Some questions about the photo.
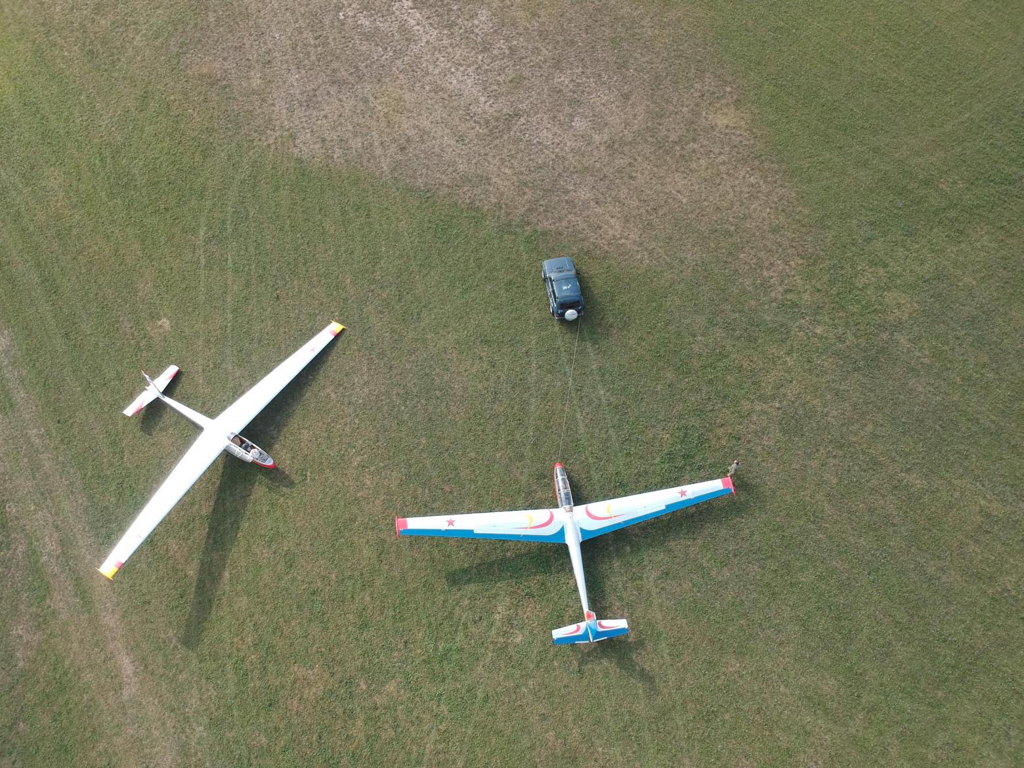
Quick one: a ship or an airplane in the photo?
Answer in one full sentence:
The image shows an airplane.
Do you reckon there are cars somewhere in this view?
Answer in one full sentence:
Yes, there is a car in the image.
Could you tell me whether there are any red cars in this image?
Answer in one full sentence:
No, there isn't any red car down there.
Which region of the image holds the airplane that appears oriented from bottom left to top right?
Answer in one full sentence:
Look in the left portion of the view to spot the airplane that appears oriented from bottom left to top right.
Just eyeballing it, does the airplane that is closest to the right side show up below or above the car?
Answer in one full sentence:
You can see the airplane that is closest to the right side below the car in the frame.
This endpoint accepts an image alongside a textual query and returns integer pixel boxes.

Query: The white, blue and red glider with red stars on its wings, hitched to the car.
[396,462,734,644]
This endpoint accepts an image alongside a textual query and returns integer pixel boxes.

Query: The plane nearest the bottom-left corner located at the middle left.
[96,320,344,580]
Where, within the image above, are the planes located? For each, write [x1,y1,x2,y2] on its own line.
[96,320,344,580]
[396,462,734,644]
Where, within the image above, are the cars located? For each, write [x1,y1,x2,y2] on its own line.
[542,258,584,321]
